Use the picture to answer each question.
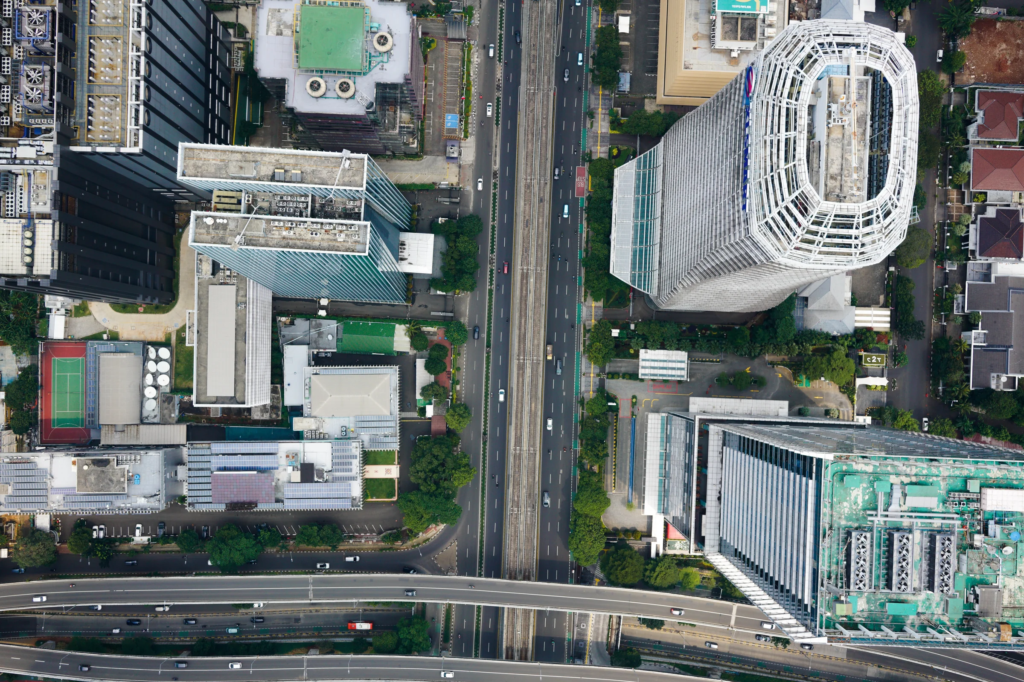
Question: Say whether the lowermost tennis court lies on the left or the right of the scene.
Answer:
left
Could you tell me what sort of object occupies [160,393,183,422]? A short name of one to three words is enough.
shed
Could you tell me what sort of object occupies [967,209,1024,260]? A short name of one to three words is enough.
house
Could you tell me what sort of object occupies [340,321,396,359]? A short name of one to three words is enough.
shed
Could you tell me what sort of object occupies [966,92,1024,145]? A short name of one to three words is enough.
house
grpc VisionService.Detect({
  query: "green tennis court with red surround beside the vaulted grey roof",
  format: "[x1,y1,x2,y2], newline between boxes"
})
[32,342,98,444]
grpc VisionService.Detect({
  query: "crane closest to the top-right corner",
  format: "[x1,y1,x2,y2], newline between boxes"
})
[824,49,863,195]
